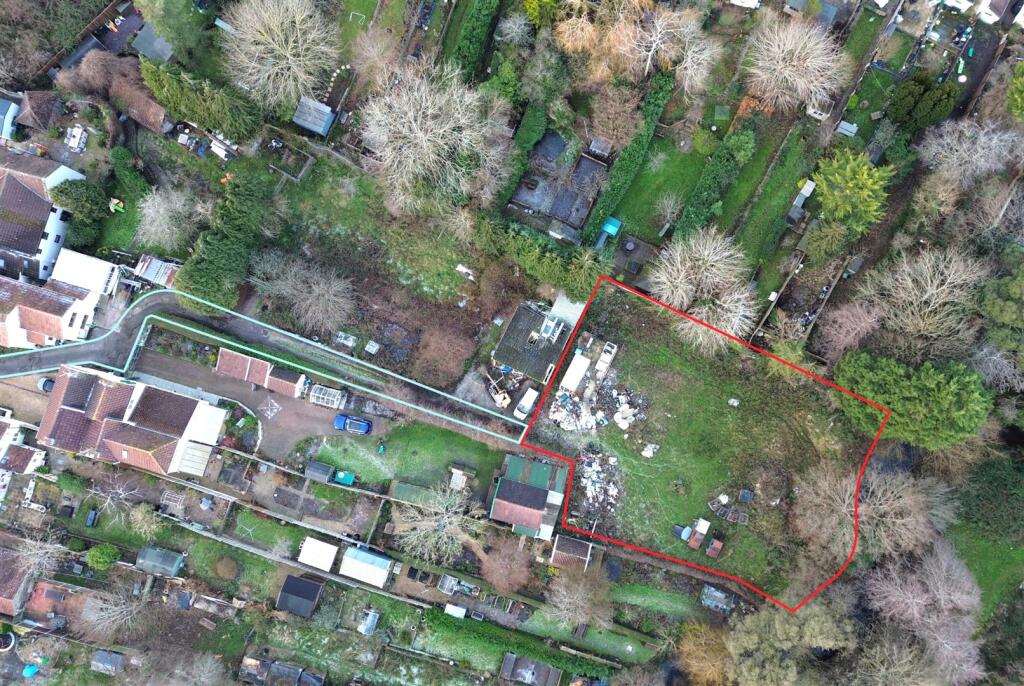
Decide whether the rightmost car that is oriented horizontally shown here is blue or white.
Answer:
blue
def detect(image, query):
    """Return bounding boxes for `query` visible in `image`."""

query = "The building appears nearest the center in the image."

[493,303,573,385]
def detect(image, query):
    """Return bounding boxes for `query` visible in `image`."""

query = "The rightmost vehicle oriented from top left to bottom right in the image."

[484,377,514,416]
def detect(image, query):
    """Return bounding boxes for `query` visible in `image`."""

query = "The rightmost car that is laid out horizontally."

[334,413,372,434]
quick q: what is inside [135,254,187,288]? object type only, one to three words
building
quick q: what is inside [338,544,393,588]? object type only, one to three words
shed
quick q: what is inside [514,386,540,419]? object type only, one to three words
vehicle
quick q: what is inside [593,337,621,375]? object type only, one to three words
truck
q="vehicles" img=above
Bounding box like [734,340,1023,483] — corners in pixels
[556,345,592,395]
[514,386,540,419]
[334,413,372,434]
[484,377,514,416]
[593,337,621,375]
